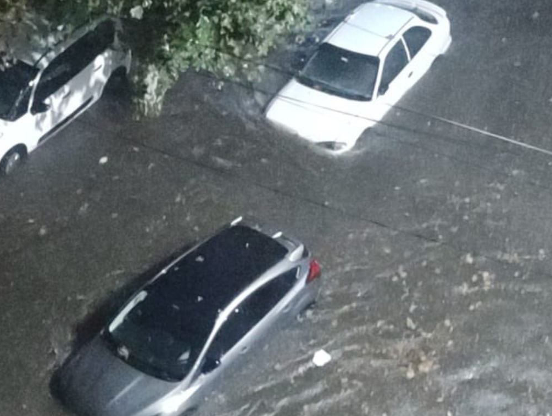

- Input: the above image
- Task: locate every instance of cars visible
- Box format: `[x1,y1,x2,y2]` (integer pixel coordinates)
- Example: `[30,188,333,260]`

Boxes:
[258,0,445,155]
[54,218,315,416]
[0,10,131,175]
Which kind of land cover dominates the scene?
water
